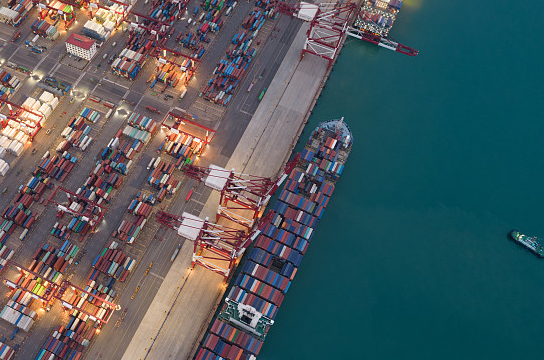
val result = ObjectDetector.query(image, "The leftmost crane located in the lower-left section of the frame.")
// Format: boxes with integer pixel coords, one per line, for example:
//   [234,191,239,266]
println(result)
[0,259,59,309]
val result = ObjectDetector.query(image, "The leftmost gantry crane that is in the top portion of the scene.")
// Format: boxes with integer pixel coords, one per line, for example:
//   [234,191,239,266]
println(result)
[0,98,48,142]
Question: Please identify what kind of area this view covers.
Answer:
port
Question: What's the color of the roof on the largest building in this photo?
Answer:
red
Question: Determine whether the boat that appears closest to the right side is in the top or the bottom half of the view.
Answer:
bottom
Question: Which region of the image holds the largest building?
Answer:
top left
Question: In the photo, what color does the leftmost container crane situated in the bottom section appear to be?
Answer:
red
